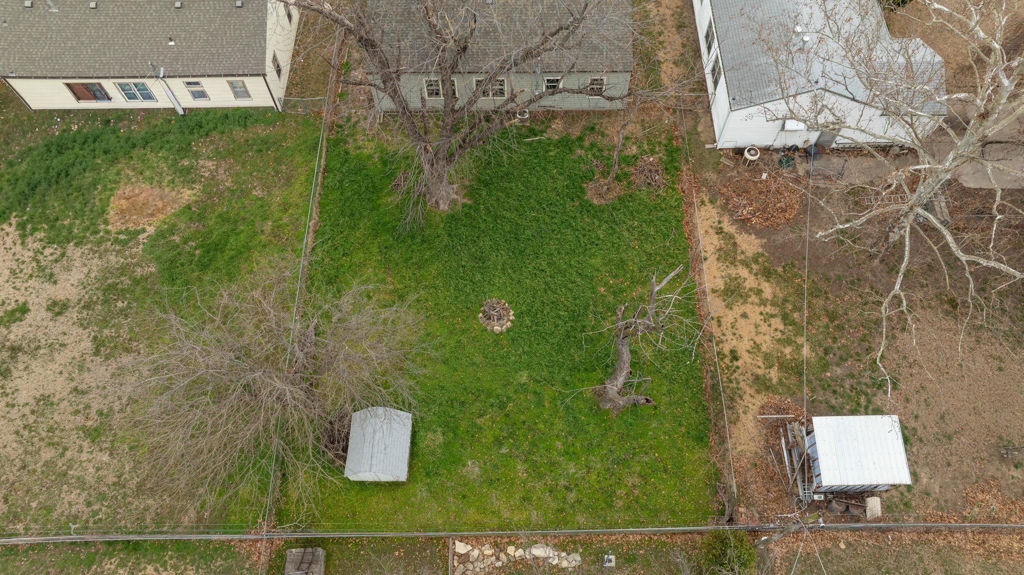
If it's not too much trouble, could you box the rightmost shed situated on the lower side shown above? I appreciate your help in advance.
[806,415,917,492]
